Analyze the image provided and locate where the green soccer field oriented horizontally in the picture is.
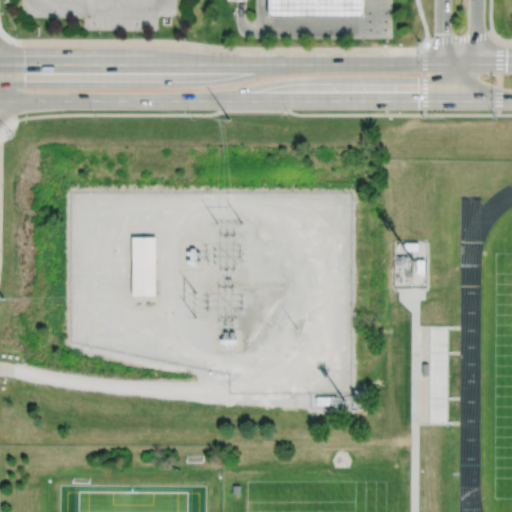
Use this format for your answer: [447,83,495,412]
[61,486,208,512]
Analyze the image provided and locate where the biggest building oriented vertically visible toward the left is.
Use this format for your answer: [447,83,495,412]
[132,238,156,298]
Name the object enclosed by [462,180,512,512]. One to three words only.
running track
